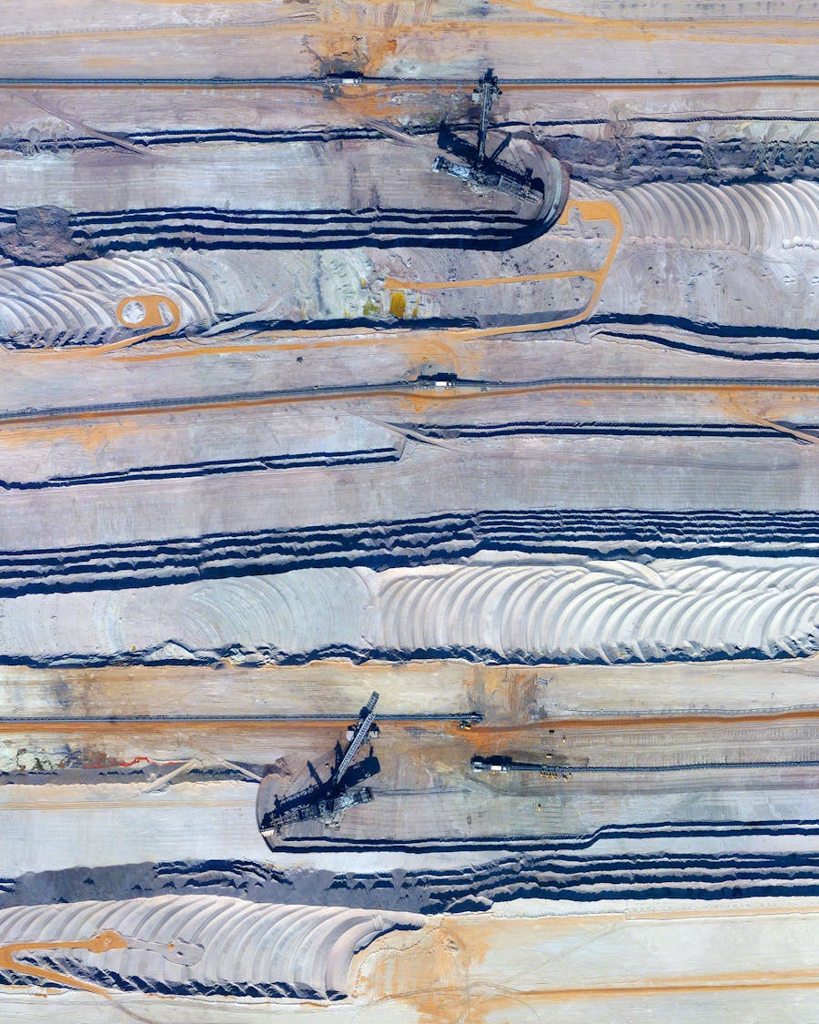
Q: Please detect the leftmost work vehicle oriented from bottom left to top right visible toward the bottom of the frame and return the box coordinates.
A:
[255,719,375,836]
